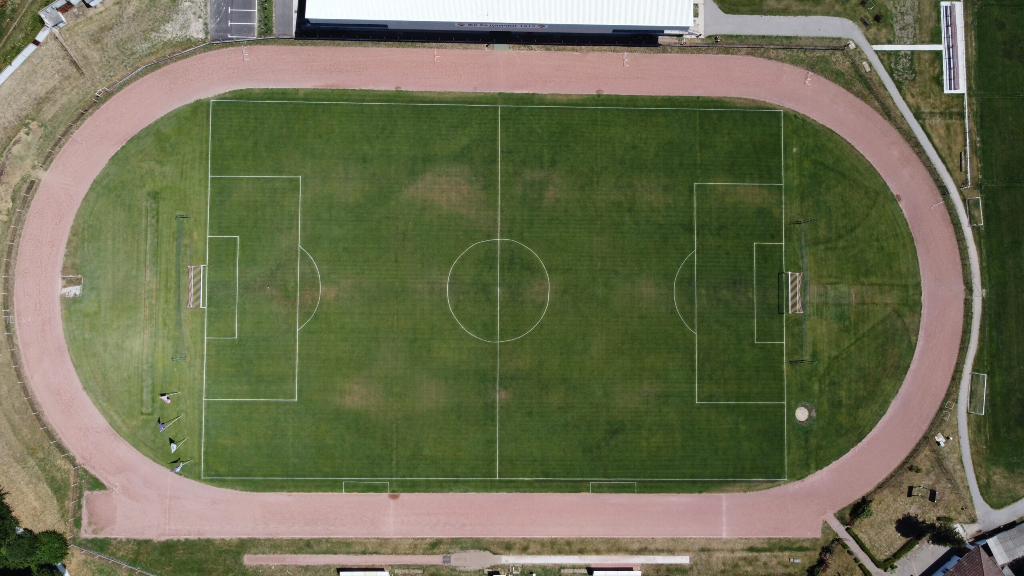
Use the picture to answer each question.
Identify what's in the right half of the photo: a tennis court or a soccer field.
soccer field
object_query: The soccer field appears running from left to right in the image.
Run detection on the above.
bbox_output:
[60,88,922,494]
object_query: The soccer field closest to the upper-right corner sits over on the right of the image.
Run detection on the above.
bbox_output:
[976,0,1024,507]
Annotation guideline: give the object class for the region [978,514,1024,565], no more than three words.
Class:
shed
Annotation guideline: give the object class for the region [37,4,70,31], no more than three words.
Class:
shed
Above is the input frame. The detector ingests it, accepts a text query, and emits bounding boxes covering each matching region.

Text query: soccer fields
[60,88,922,494]
[976,0,1024,507]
